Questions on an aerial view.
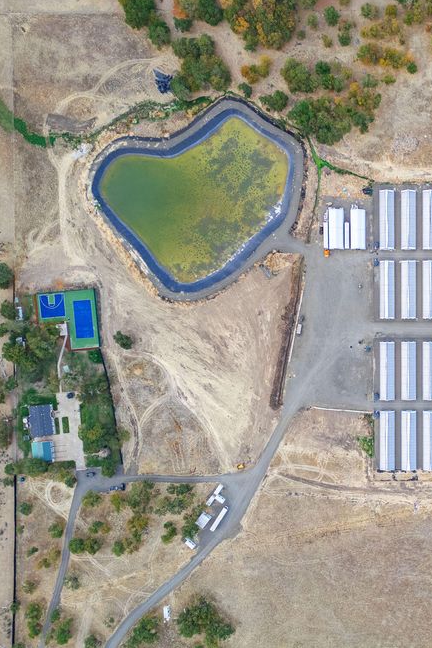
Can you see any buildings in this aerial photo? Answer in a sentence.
Yes, I can see a building in this picture.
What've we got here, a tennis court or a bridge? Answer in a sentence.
Of the two, only a tennis court appears.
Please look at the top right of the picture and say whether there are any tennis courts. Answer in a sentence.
No, no tennis court can be made out at the top right of the picture.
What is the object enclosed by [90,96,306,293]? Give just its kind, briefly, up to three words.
pond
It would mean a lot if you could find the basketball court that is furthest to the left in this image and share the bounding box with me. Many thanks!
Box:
[37,291,69,324]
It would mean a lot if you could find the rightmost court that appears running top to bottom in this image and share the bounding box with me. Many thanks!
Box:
[66,290,96,350]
